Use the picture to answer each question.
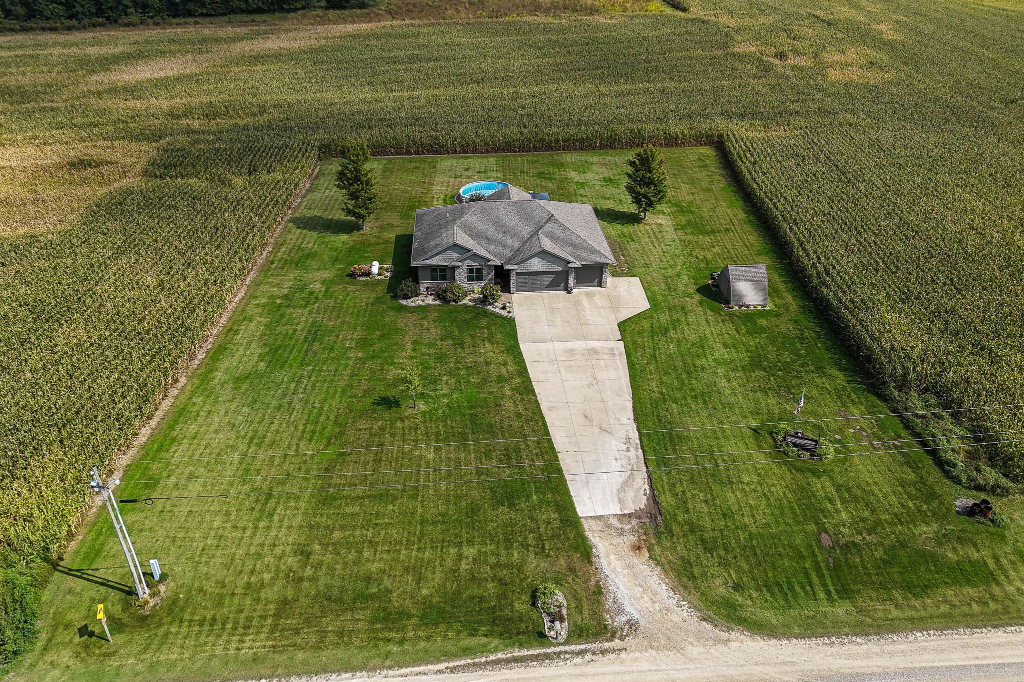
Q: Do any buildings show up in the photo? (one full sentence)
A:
Yes, a building can be made out from above.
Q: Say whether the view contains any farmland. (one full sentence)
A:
Yes, the picture does contain farmland.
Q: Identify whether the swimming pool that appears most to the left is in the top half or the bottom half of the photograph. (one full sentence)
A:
The swimming pool that appears most to the left sits in the top half of the picture.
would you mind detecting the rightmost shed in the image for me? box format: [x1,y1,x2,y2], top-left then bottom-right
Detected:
[718,264,768,305]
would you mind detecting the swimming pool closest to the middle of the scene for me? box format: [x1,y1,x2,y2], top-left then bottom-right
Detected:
[458,181,508,203]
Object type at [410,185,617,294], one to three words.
house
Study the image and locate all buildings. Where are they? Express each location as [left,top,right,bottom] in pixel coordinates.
[410,185,617,294]
[718,264,768,305]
